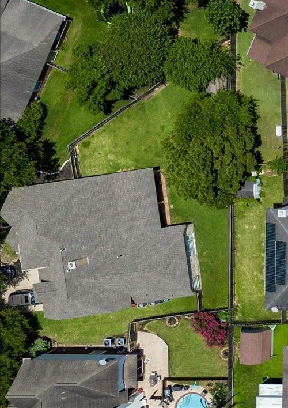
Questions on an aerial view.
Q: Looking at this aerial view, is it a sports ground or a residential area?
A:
residential area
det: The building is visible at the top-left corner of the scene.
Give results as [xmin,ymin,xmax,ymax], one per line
[0,0,74,123]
